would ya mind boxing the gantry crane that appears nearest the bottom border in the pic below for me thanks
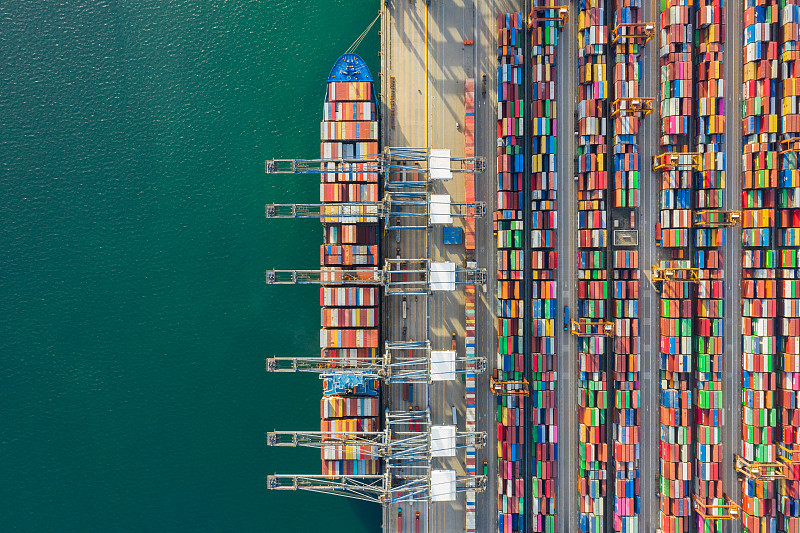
[689,492,743,519]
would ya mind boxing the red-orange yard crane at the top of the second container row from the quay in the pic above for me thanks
[523,5,570,34]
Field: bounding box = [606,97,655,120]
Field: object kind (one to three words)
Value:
container crane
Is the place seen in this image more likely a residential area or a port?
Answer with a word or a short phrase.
port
